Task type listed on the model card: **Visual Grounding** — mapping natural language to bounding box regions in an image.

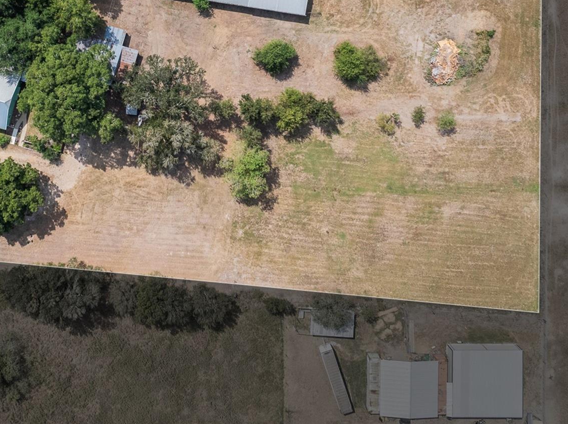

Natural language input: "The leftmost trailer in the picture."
[317,339,353,413]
